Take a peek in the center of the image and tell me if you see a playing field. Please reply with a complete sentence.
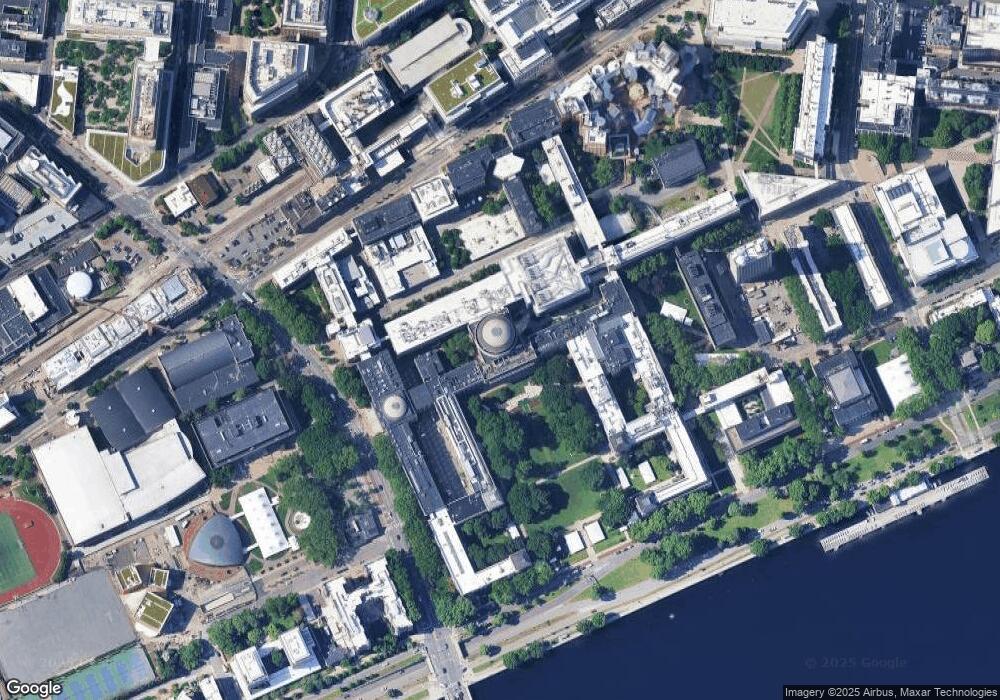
No, no playing field can be made out in the center of the image.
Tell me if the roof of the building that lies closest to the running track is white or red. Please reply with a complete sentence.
In this view, the roof of the building that lies closest to the running track is white.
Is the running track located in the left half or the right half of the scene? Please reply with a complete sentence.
The running track sits on the left side.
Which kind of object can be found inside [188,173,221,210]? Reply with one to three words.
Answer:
house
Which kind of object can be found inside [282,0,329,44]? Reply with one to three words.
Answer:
building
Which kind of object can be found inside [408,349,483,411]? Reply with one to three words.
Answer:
building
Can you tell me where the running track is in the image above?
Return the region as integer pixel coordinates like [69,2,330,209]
[0,498,63,610]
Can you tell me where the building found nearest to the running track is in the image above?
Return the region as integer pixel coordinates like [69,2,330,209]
[33,426,137,549]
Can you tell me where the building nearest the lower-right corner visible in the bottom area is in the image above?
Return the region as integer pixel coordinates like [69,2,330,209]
[891,481,929,507]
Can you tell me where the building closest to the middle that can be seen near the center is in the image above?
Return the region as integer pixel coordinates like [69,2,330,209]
[468,307,537,392]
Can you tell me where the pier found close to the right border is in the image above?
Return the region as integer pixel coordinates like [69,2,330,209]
[820,467,989,552]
